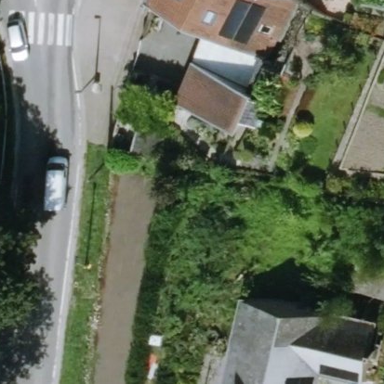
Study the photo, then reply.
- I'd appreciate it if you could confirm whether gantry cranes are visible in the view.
No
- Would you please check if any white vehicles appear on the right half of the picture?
No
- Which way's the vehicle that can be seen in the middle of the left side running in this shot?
vertically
